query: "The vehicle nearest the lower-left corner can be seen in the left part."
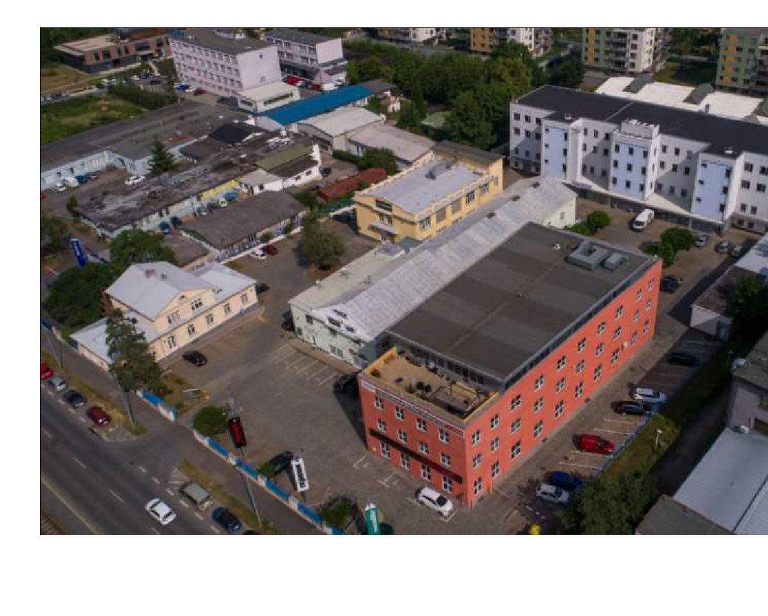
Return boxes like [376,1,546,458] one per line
[138,494,175,524]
